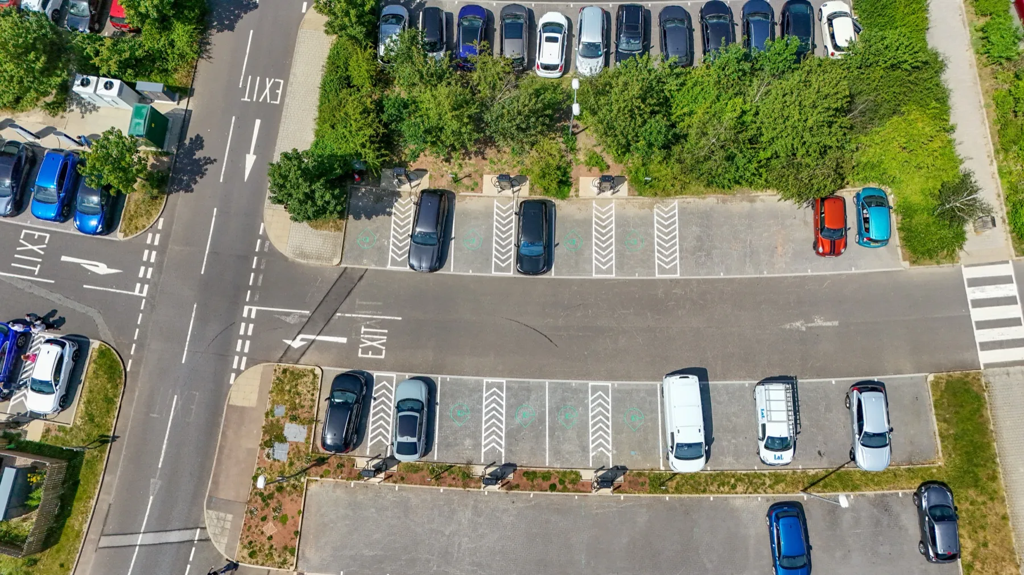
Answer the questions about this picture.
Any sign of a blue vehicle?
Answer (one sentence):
Yes, there's a blue vehicle down there.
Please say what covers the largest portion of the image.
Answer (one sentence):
Most of the picture is covered by paved ground.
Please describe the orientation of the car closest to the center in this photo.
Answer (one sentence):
The car closest to the center runs from top to bottom in the image.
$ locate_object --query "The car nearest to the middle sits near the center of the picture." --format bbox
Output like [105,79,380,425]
[513,201,552,274]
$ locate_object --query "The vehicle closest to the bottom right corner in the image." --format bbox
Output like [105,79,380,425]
[910,484,967,562]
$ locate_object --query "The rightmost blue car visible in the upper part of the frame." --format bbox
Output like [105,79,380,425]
[851,190,895,246]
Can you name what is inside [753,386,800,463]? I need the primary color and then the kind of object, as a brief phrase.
white van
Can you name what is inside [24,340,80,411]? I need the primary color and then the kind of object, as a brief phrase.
white car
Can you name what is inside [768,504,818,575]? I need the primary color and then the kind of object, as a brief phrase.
blue car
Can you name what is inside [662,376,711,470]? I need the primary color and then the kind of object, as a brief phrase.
white van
